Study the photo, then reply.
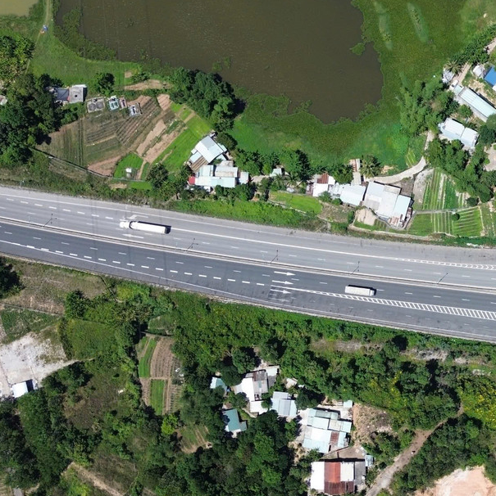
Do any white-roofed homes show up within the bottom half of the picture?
Yes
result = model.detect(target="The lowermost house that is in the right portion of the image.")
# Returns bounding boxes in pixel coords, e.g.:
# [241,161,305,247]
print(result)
[310,455,374,495]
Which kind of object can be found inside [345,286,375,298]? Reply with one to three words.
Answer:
vehicle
